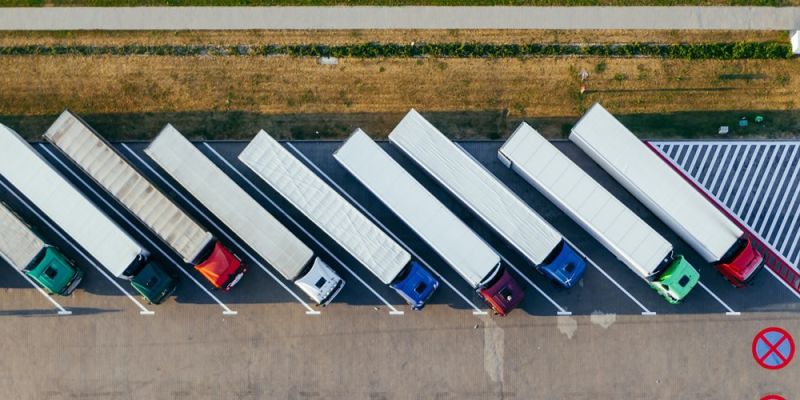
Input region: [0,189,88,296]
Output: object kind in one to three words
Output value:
truck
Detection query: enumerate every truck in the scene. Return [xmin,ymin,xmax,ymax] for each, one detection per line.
[240,130,443,314]
[0,121,182,305]
[334,129,534,319]
[495,123,702,308]
[44,109,252,295]
[566,104,767,291]
[389,109,589,295]
[145,124,348,309]
[0,189,88,296]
